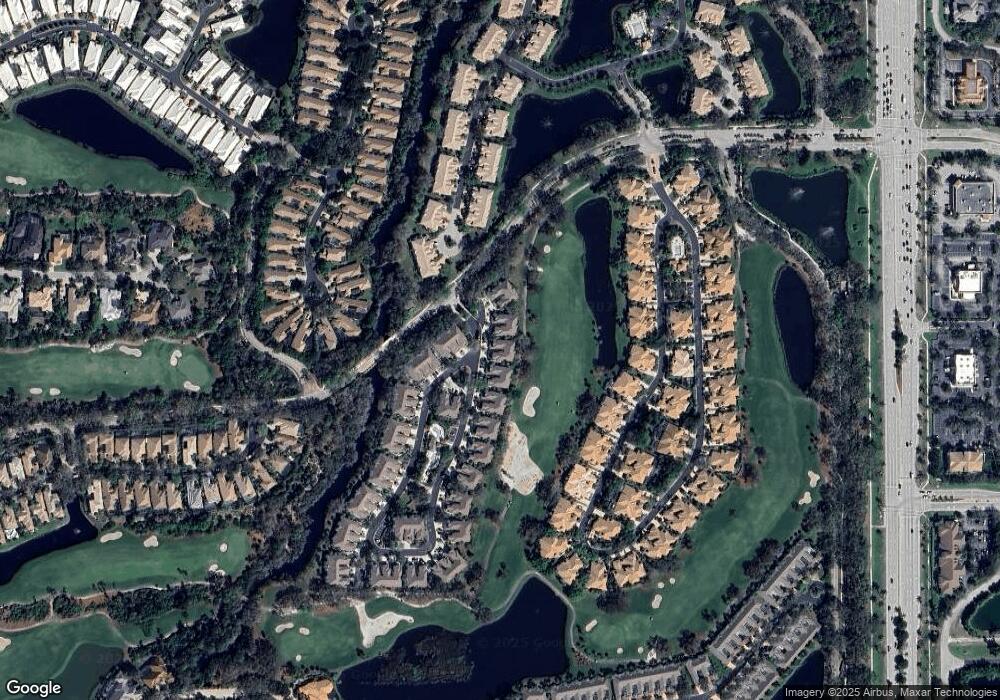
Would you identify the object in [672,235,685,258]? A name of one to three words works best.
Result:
swimming pool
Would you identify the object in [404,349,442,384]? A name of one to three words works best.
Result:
building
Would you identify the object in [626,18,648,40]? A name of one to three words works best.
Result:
swimming pool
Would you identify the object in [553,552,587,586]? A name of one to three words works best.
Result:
house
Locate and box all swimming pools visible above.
[431,426,443,440]
[430,451,438,464]
[626,18,648,40]
[672,235,685,258]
